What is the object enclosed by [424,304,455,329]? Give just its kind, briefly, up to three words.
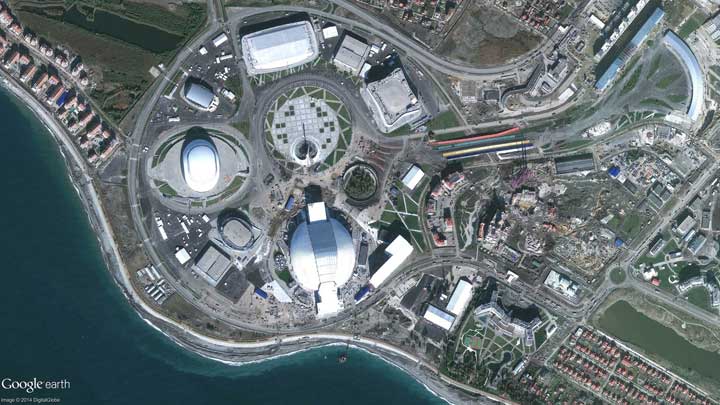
building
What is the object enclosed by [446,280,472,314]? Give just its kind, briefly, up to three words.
building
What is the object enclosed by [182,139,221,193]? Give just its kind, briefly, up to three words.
stadium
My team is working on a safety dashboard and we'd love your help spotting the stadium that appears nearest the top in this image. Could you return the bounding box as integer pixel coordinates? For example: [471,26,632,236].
[242,20,319,75]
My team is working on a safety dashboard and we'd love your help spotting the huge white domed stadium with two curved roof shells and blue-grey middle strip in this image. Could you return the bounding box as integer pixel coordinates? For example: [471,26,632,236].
[290,202,356,319]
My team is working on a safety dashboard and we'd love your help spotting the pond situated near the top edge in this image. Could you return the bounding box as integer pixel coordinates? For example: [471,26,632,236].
[64,4,185,53]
